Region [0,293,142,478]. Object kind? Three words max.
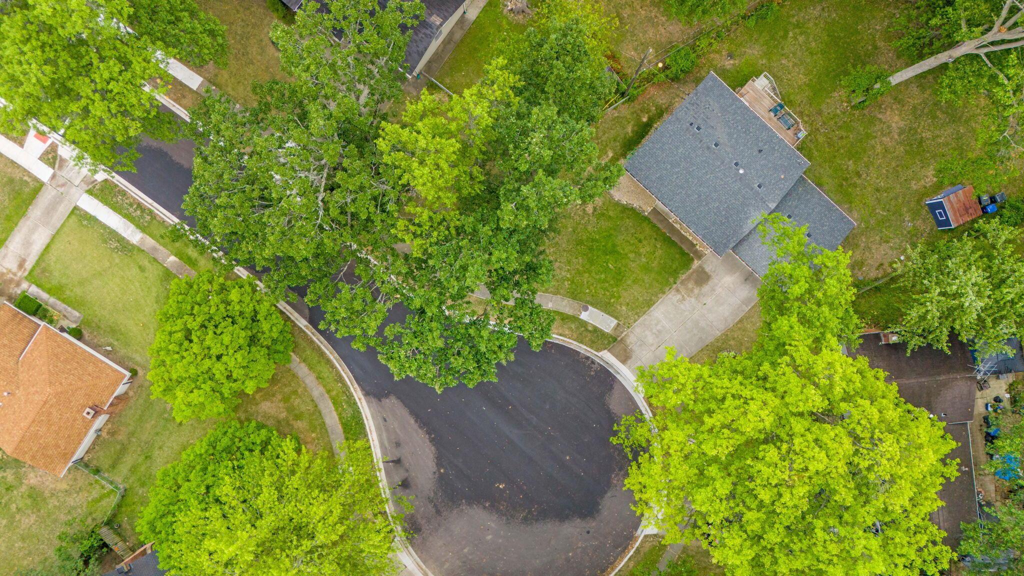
house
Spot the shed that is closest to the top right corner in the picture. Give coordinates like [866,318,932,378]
[926,188,984,230]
